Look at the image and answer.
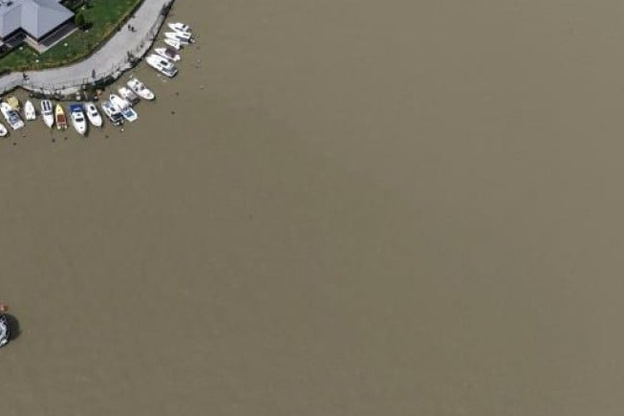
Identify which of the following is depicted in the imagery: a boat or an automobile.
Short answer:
boat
